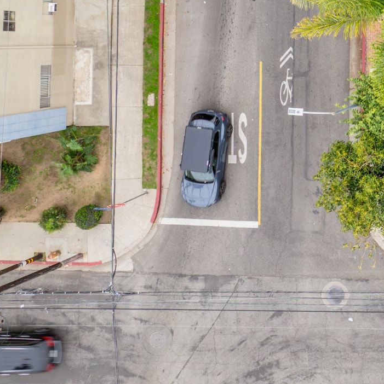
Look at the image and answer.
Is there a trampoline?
No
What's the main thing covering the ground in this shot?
paved ground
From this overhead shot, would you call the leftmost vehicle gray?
Yes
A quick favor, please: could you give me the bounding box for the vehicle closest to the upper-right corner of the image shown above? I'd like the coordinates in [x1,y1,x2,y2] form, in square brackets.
[180,112,233,203]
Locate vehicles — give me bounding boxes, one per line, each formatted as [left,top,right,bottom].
[0,330,57,381]
[180,112,233,203]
